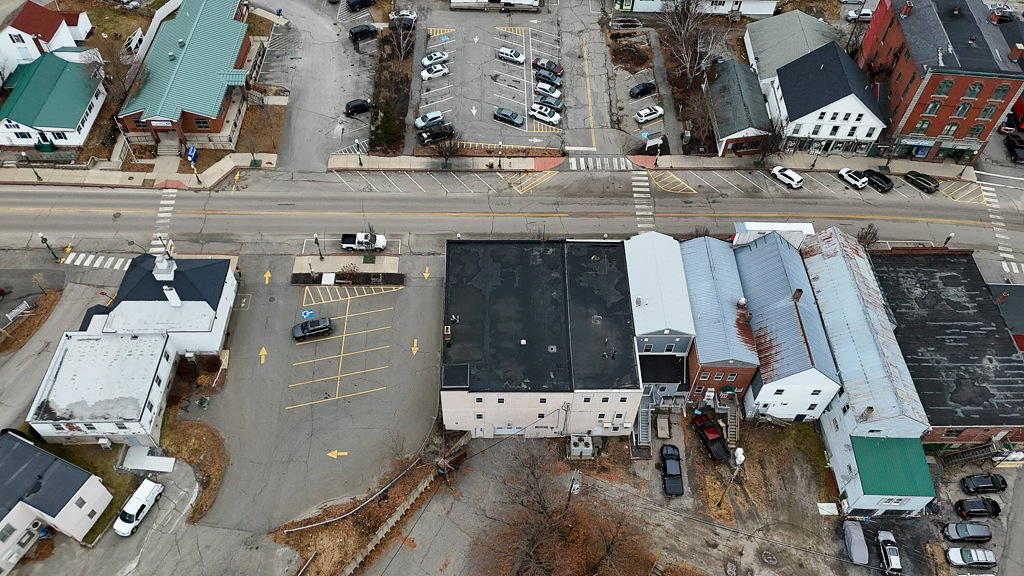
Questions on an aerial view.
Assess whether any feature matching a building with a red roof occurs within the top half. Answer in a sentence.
Yes, a building with a red roof can be seen within the top half.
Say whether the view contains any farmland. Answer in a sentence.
No, the scene doesn't show any farmland.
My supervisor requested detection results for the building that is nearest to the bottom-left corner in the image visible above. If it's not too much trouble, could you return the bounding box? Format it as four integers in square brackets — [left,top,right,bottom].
[0,430,114,572]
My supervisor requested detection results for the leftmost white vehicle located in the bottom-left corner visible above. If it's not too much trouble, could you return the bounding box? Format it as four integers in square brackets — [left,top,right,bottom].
[111,477,167,534]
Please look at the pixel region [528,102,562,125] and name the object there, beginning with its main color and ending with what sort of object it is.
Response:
white car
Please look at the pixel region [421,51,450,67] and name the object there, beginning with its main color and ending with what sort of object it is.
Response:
white car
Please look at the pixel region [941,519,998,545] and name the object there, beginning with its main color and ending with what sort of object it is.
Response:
gray car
